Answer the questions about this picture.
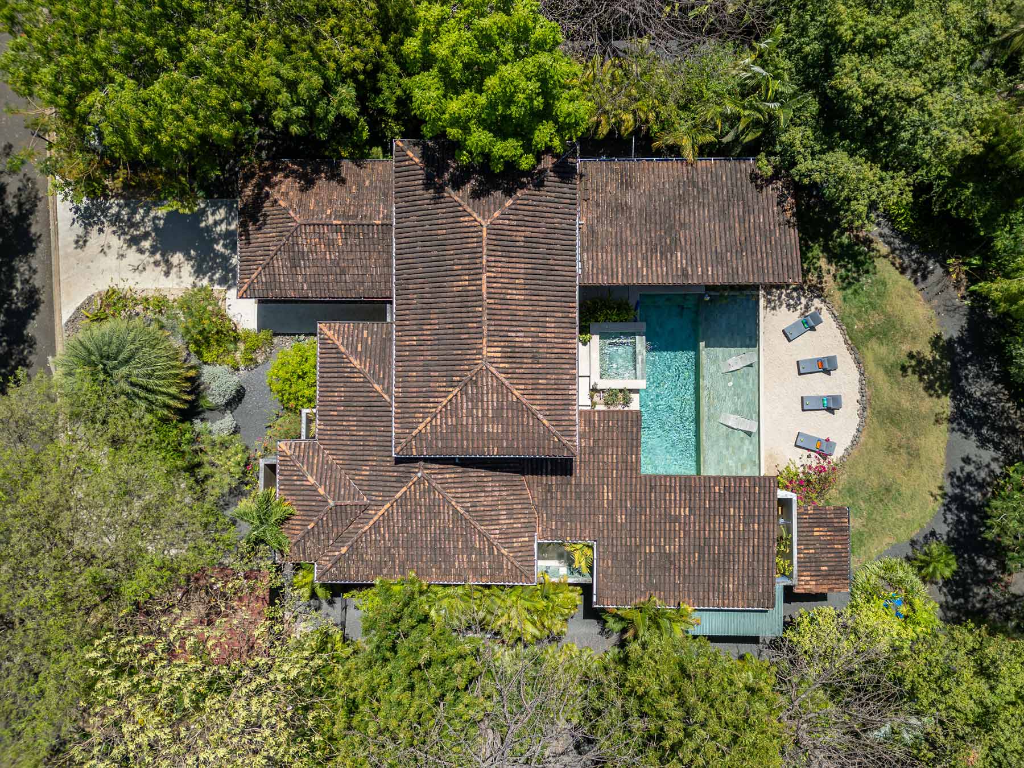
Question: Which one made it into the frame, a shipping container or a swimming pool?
swimming pool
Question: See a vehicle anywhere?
No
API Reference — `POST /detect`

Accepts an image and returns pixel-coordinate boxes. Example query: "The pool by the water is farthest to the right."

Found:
[634,291,765,476]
